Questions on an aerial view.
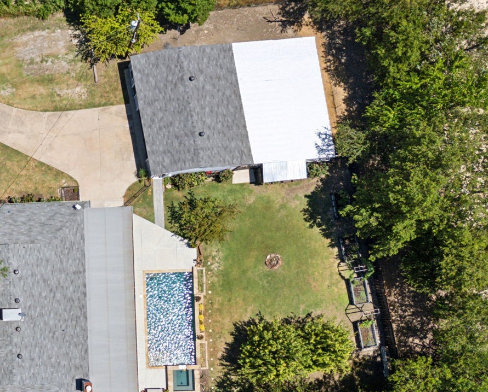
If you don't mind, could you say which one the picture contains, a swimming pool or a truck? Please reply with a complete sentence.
I can see a swimming pool in this picture.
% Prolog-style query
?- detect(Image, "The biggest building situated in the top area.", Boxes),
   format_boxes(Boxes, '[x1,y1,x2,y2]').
[129,36,334,182]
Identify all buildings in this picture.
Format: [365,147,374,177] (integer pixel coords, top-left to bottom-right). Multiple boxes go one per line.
[0,200,139,392]
[129,36,334,182]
